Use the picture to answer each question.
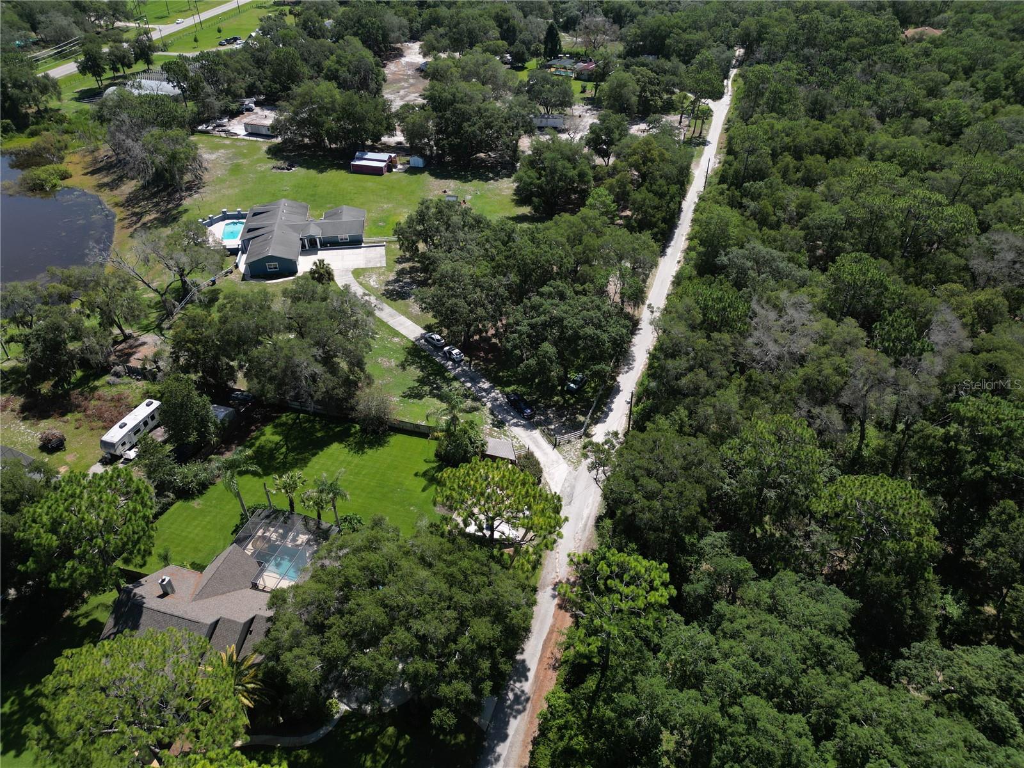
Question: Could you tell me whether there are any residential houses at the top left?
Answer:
Yes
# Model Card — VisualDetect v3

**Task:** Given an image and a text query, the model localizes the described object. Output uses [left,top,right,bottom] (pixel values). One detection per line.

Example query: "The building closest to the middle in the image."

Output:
[484,439,516,473]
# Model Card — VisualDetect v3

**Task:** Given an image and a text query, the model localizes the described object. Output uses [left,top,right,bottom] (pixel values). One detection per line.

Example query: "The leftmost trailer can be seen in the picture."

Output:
[25,419,77,448]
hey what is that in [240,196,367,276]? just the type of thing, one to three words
house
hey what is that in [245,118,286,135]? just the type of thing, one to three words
house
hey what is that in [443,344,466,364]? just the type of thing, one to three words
car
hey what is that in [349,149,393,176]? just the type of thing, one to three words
barn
